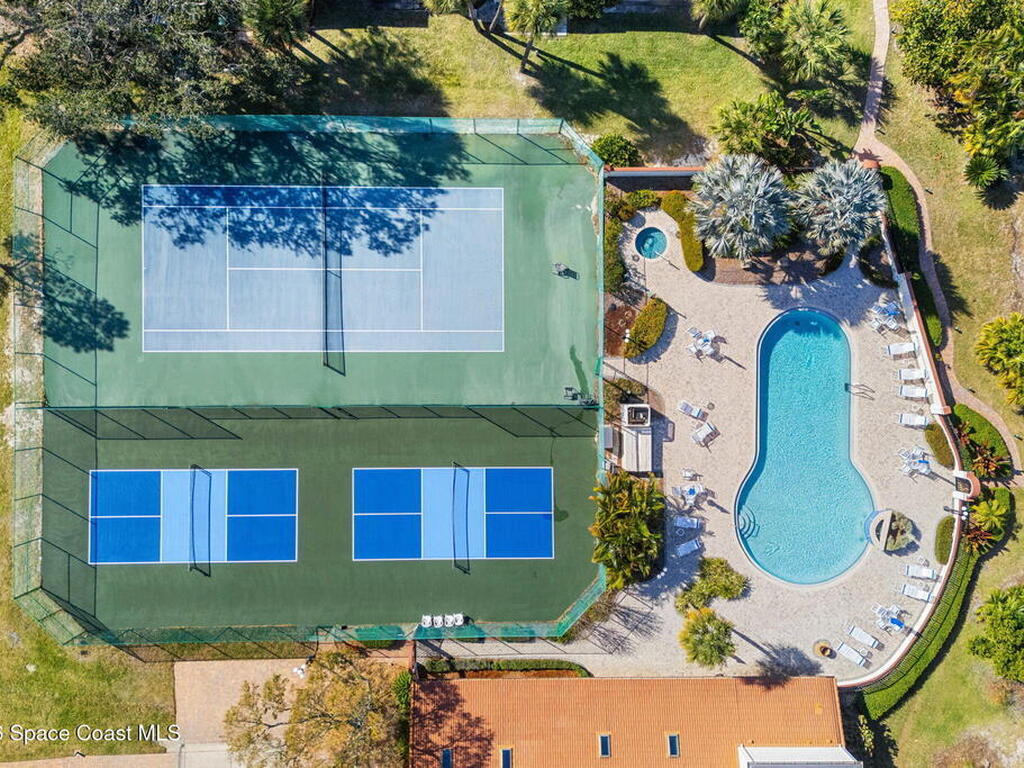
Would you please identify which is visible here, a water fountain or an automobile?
water fountain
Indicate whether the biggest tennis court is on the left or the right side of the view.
left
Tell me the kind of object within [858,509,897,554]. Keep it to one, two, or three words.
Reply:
fountain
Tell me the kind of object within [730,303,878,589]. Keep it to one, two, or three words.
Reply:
swimming pool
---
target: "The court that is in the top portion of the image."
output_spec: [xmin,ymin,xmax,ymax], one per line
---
[42,130,598,406]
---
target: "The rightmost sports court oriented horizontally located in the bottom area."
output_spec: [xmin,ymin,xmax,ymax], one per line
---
[352,466,554,561]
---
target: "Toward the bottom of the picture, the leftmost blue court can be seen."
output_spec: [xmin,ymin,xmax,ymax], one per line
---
[89,468,298,564]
